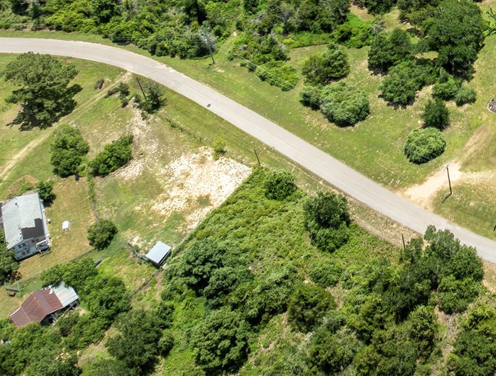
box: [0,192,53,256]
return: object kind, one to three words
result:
house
